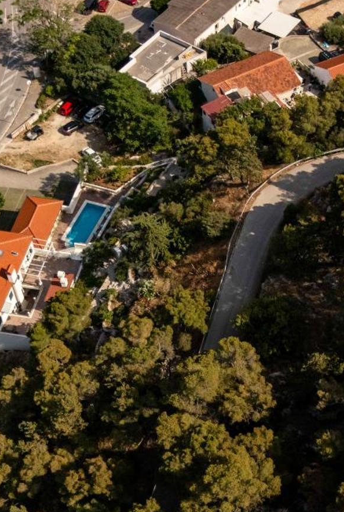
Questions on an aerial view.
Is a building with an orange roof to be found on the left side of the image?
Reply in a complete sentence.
Yes, a building with an orange roof shows up on the left side of the image.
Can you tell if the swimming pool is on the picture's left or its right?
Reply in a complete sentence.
The swimming pool appears in the left half of the scene.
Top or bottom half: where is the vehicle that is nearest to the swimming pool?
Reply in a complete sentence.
The vehicle that is nearest to the swimming pool is in the top half of the image.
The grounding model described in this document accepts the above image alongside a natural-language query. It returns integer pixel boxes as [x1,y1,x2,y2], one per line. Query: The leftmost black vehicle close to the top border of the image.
[82,0,97,13]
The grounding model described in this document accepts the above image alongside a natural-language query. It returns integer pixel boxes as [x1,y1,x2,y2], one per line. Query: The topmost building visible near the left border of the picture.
[10,197,63,263]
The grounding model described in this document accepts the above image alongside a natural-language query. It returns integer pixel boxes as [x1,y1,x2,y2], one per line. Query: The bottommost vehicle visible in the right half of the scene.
[314,48,338,62]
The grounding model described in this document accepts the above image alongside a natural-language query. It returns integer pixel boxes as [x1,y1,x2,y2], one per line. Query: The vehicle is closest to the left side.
[23,125,47,143]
